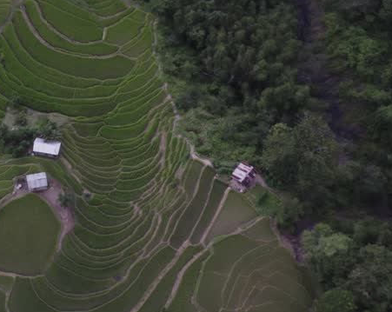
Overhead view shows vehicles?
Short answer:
No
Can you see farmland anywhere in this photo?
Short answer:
Yes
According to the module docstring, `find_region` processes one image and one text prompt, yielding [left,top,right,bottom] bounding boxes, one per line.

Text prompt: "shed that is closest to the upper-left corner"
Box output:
[34,138,62,159]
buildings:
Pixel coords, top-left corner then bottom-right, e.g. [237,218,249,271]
[26,173,49,195]
[229,162,260,188]
[34,138,62,159]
